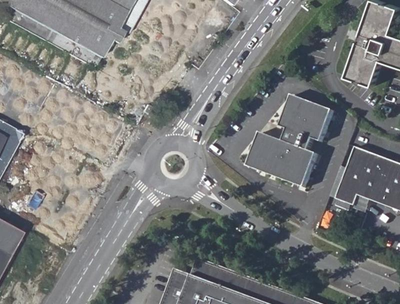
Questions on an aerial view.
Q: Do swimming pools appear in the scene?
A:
No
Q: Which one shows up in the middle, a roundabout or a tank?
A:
roundabout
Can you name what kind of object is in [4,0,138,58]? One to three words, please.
building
